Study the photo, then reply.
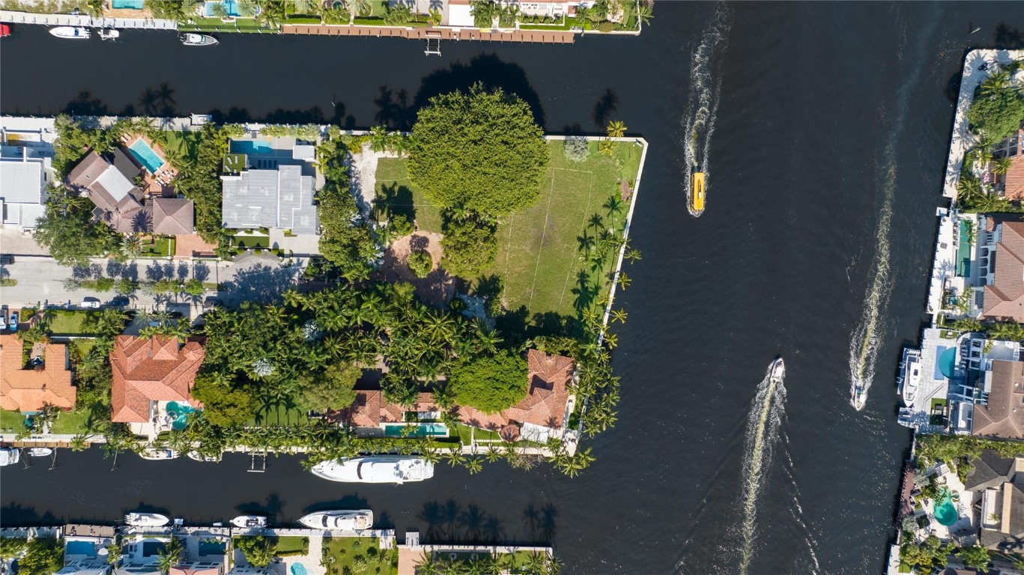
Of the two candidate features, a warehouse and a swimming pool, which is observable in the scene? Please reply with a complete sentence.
There is a swimming pool in the scene.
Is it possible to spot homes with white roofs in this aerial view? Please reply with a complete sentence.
Yes, this view includes a home with a white roof.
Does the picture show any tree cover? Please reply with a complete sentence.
Yes, there is tree cover in the image.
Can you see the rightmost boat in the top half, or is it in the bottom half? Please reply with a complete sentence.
Seen from above, the rightmost boat lies in the bottom half of the view.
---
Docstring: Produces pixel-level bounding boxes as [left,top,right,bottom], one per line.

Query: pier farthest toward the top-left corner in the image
[0,9,178,32]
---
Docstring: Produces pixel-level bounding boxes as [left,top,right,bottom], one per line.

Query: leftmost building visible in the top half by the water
[0,131,60,230]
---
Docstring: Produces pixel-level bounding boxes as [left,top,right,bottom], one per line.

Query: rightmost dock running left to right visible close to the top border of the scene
[281,24,575,46]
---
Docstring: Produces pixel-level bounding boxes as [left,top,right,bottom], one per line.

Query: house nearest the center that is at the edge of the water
[323,349,575,443]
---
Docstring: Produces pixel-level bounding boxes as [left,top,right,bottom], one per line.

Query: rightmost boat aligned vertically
[903,351,924,407]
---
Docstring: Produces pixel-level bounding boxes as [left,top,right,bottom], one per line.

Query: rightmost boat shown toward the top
[180,33,219,47]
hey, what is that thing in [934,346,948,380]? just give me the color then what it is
blue swimming pool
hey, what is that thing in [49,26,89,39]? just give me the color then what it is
white boat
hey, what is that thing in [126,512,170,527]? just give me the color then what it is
white boat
